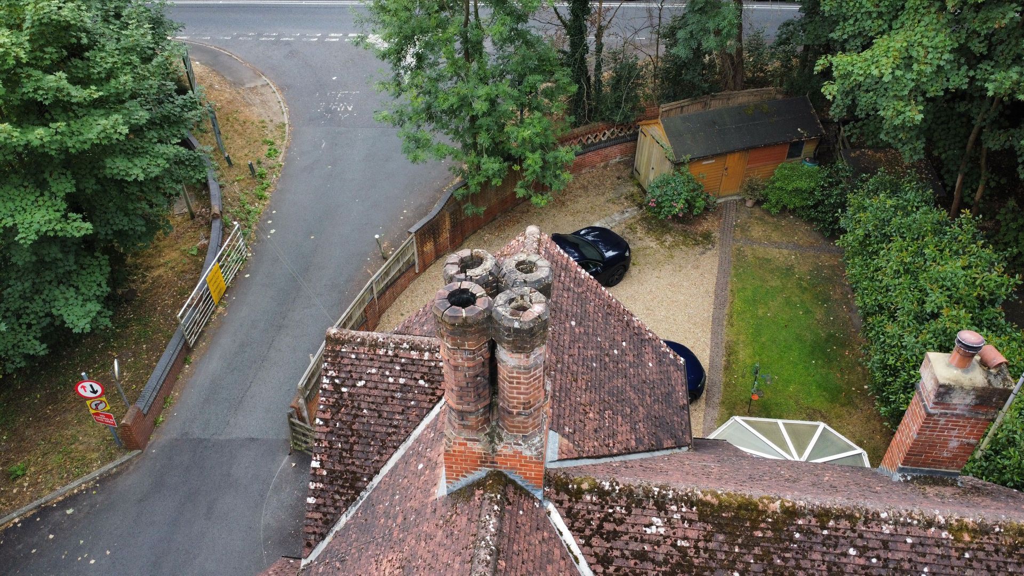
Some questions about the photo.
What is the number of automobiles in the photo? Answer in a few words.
2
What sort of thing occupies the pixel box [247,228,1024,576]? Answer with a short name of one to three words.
house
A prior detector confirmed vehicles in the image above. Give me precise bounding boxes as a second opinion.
[540,232,635,288]
[652,331,709,398]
